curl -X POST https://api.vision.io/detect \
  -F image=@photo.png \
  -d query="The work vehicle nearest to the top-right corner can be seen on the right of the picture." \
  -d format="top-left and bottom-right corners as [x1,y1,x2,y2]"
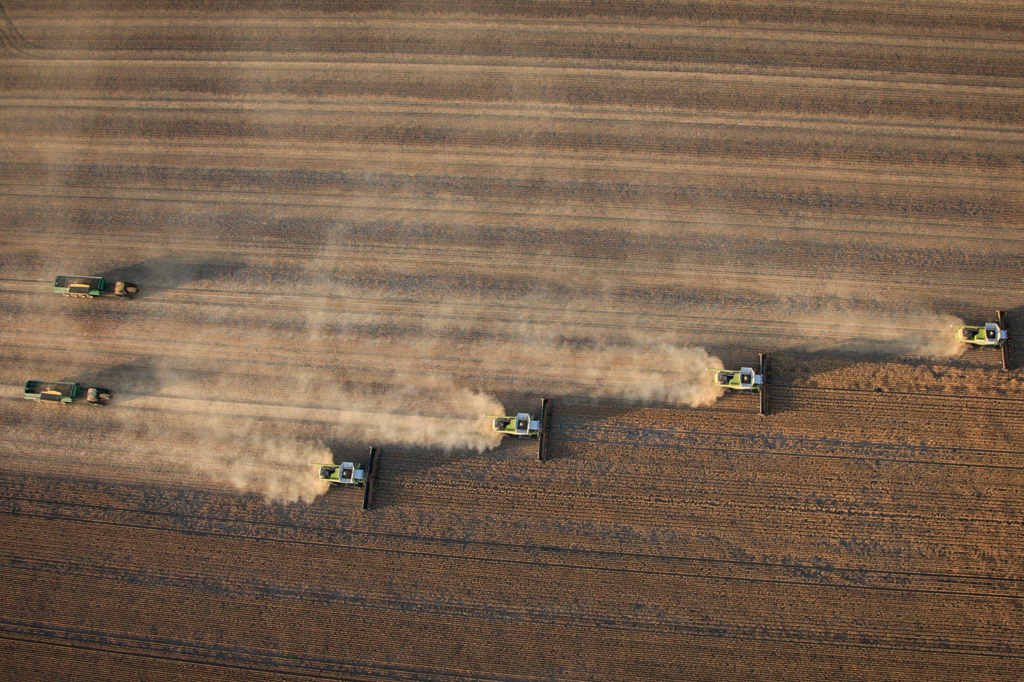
[947,309,1015,371]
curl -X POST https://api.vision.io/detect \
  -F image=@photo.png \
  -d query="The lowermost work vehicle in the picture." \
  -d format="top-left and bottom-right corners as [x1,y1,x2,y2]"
[307,446,383,511]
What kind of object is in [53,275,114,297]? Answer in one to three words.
trailer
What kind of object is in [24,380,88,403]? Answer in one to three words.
trailer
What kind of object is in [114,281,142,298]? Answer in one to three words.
work vehicle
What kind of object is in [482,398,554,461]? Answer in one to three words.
work vehicle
